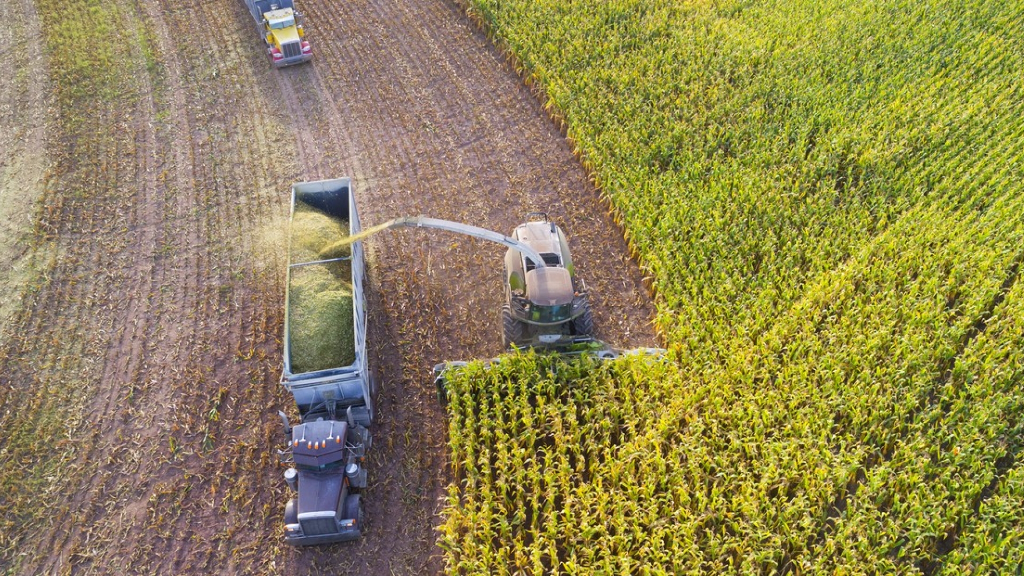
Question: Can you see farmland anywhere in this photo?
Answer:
Yes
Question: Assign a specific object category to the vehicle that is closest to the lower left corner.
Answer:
truck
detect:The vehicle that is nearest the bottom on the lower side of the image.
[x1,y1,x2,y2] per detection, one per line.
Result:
[269,400,369,546]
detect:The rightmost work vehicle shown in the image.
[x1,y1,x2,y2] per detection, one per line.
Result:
[386,213,673,410]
